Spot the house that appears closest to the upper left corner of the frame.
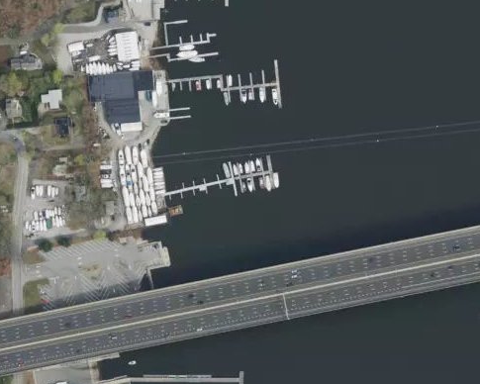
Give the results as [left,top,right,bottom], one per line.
[10,51,43,70]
